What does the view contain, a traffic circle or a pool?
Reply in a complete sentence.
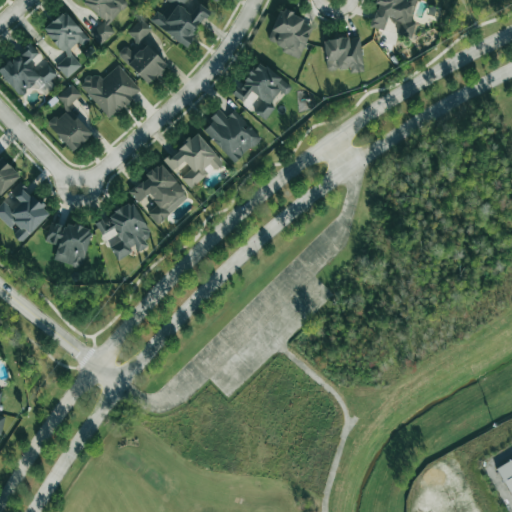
This aerial view contains a pool.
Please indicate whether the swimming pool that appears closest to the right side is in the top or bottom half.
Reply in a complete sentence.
The top half of the photo is where the swimming pool that appears closest to the right side is.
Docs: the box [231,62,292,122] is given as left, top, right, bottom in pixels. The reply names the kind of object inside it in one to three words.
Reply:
house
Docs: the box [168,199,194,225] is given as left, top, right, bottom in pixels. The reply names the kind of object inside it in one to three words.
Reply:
swimming pool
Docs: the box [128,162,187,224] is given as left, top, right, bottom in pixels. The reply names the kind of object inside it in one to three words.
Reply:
house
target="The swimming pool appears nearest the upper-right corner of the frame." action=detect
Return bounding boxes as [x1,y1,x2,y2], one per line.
[414,0,437,24]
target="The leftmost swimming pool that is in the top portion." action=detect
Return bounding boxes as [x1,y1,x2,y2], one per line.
[25,80,50,107]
